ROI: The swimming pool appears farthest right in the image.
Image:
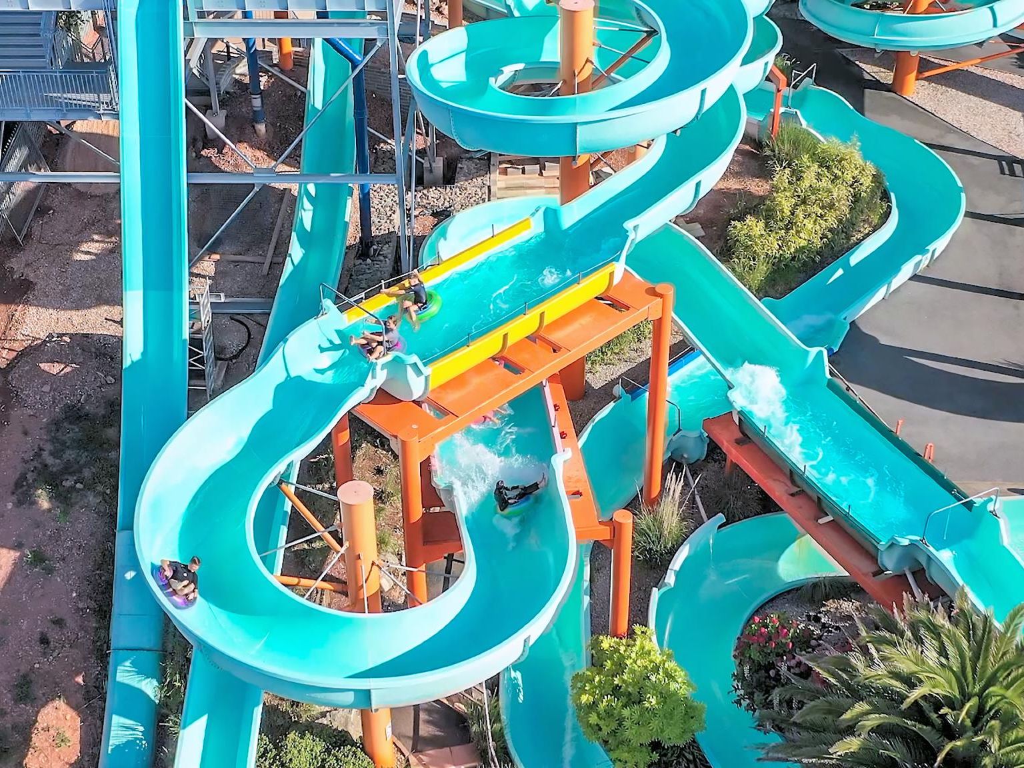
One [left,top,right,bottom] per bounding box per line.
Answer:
[735,378,981,565]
